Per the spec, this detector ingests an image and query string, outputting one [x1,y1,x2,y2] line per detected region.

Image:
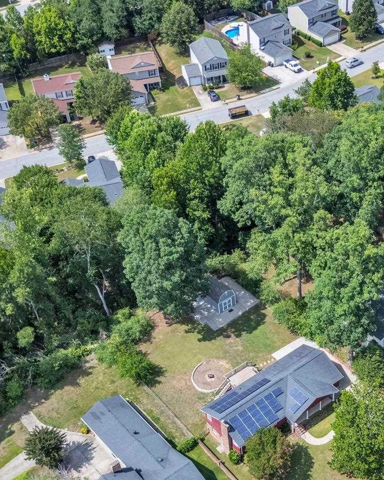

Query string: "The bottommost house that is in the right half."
[199,345,344,462]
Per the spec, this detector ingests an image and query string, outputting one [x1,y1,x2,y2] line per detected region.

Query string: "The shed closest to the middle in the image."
[198,279,238,314]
